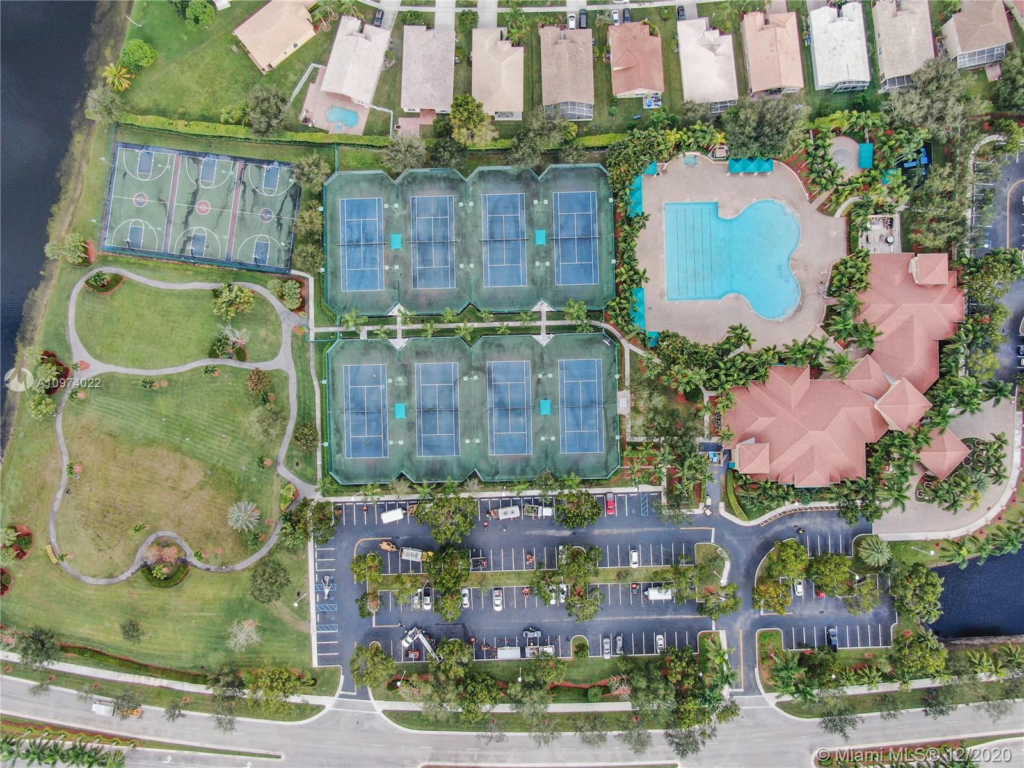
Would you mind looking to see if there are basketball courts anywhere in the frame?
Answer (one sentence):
Yes, a basketball court is visible in the scene.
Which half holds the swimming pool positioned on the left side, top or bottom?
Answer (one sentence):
Seen from above, the swimming pool positioned on the left side lies in the top half of the view.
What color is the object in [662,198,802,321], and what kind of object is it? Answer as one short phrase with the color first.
blue swimming pool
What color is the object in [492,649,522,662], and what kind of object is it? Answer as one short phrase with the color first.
white vehicle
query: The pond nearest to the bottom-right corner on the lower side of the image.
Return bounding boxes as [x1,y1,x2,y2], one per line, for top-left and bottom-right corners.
[927,543,1024,636]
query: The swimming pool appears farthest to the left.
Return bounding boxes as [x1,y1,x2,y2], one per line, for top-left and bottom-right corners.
[324,105,360,128]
